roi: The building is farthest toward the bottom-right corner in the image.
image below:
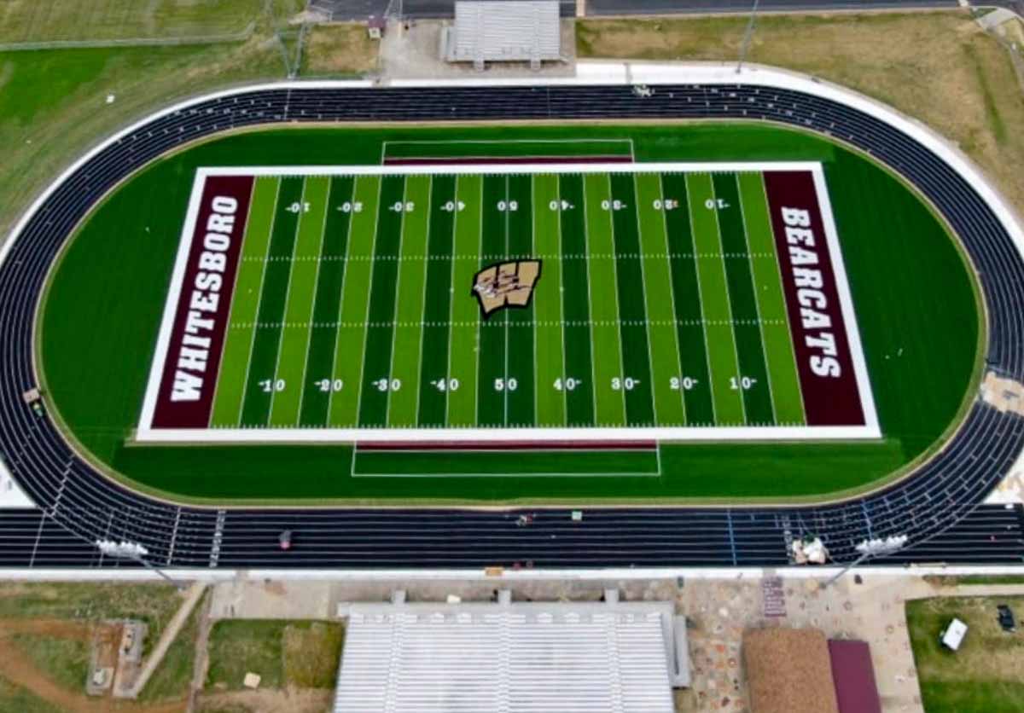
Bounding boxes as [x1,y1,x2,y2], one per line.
[828,640,880,713]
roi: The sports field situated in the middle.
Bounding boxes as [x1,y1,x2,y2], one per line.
[151,171,865,428]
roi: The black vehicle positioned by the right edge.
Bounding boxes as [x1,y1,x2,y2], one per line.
[996,606,1019,631]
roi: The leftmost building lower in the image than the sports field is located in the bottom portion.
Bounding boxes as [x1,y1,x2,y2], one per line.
[743,629,839,713]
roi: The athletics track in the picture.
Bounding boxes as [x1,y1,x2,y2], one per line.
[0,84,1024,569]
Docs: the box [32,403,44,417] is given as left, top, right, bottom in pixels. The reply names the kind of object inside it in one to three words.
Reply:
vehicle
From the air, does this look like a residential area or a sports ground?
sports ground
